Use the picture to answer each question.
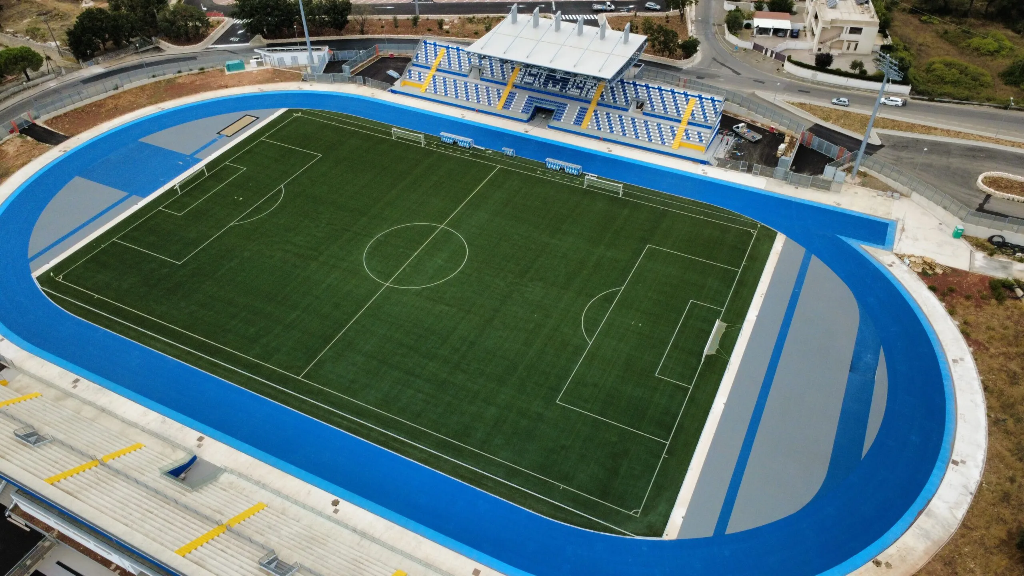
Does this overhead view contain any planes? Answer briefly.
No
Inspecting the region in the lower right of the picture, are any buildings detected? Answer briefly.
No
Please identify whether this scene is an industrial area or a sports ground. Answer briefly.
sports ground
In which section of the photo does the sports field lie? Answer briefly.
center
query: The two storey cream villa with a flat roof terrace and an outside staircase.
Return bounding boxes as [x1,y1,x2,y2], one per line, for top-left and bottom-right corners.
[790,0,882,56]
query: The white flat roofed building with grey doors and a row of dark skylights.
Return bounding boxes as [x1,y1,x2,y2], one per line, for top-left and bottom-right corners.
[253,42,326,67]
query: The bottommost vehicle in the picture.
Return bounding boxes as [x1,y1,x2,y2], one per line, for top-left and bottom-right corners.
[730,123,763,141]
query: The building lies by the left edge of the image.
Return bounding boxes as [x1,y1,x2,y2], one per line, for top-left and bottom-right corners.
[6,493,156,576]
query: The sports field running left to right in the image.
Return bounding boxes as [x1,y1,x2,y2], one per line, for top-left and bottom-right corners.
[35,109,776,538]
